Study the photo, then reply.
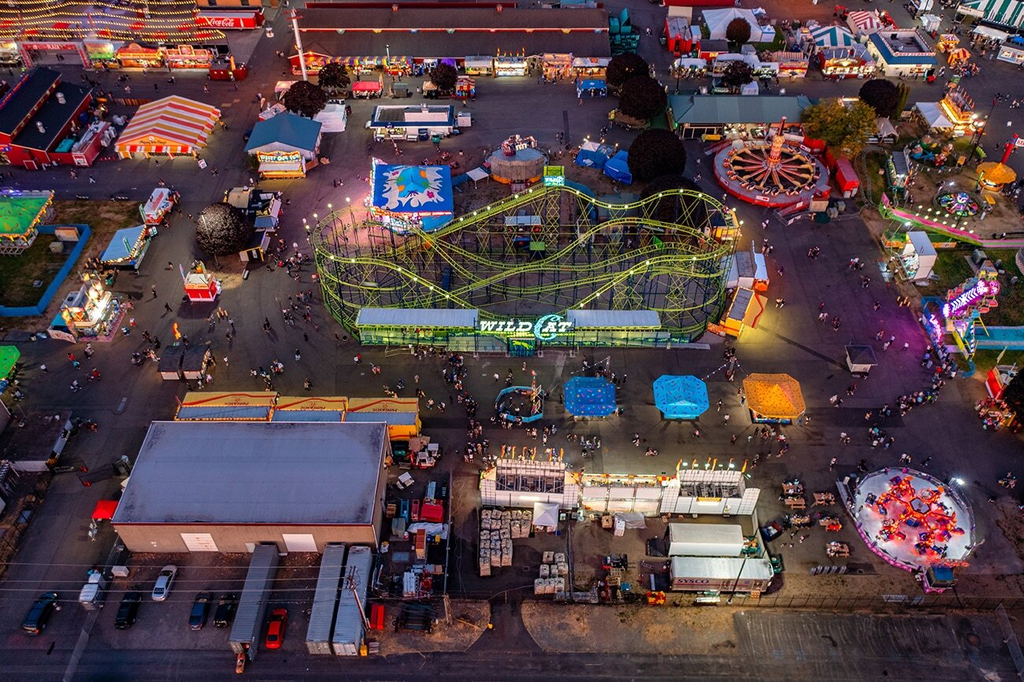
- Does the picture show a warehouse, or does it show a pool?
warehouse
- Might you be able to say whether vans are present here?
Yes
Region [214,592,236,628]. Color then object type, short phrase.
black car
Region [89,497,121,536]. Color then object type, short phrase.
red tent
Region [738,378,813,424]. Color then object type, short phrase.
orange tent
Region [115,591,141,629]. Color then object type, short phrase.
black car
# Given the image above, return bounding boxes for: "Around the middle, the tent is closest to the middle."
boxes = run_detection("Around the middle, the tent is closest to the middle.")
[561,376,620,423]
